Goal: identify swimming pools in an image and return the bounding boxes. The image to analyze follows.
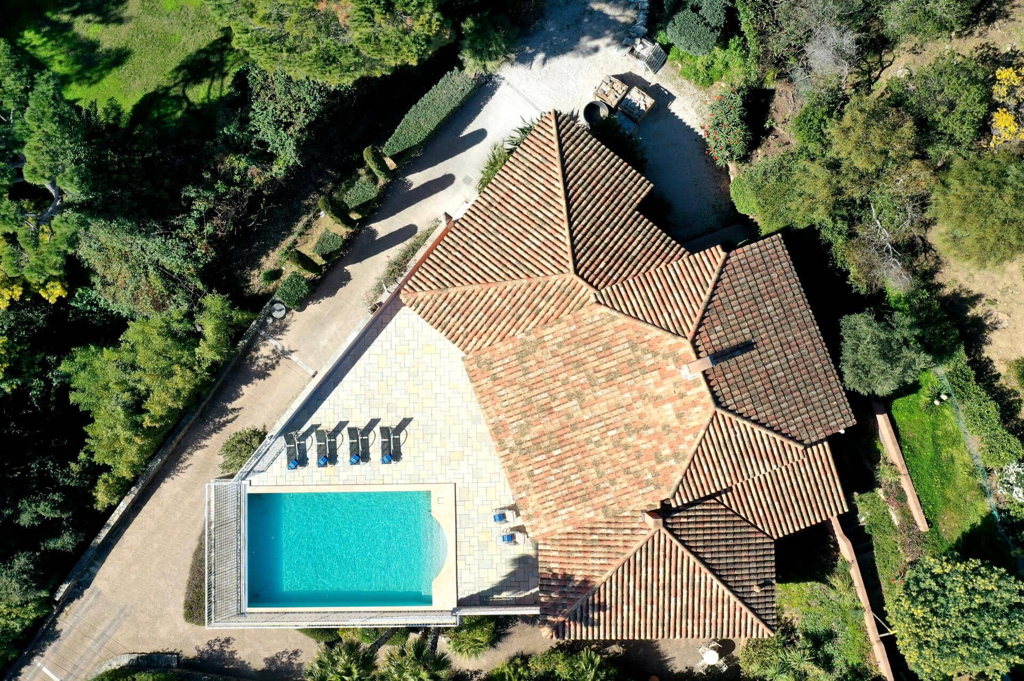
[241,478,457,612]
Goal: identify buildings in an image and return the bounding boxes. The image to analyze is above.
[398,108,856,641]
